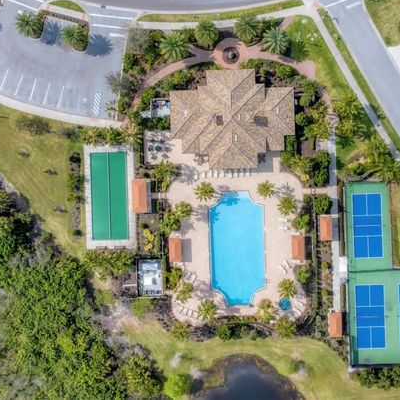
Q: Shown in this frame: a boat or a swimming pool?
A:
swimming pool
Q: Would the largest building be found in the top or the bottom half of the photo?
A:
top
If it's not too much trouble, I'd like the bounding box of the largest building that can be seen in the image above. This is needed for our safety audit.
[169,69,294,169]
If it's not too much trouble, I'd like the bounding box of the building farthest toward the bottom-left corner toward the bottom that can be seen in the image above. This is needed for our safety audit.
[167,237,182,263]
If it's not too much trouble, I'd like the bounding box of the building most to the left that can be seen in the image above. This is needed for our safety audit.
[131,178,149,214]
